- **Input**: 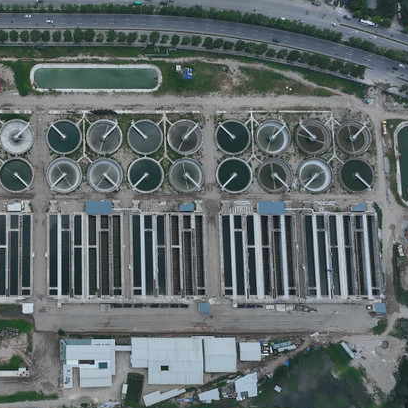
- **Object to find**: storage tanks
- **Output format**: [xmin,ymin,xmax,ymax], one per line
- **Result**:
[296,157,334,194]
[0,119,34,156]
[293,120,331,156]
[214,120,250,156]
[127,120,164,156]
[46,157,83,194]
[86,120,122,156]
[127,157,164,194]
[253,120,290,156]
[334,121,372,156]
[337,158,375,195]
[168,157,204,195]
[0,157,35,194]
[46,119,83,156]
[214,157,252,194]
[167,120,203,156]
[255,157,293,194]
[87,157,123,194]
